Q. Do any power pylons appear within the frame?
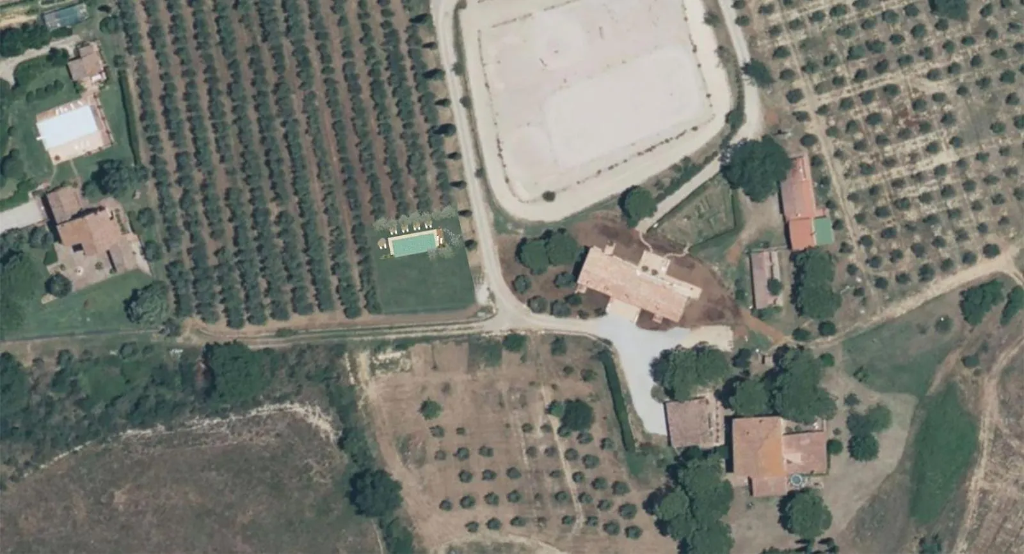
No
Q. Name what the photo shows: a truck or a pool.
pool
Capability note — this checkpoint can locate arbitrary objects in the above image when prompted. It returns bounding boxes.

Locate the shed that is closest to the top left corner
[44,3,88,27]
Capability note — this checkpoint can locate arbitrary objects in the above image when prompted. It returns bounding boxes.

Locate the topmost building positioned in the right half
[781,156,826,220]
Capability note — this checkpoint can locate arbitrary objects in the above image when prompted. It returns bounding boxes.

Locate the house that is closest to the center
[575,243,702,324]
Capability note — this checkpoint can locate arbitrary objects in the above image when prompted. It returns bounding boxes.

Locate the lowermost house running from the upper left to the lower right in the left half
[47,186,129,271]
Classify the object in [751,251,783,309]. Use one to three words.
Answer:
shed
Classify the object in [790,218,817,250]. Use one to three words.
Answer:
barn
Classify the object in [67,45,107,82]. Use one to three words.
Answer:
building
